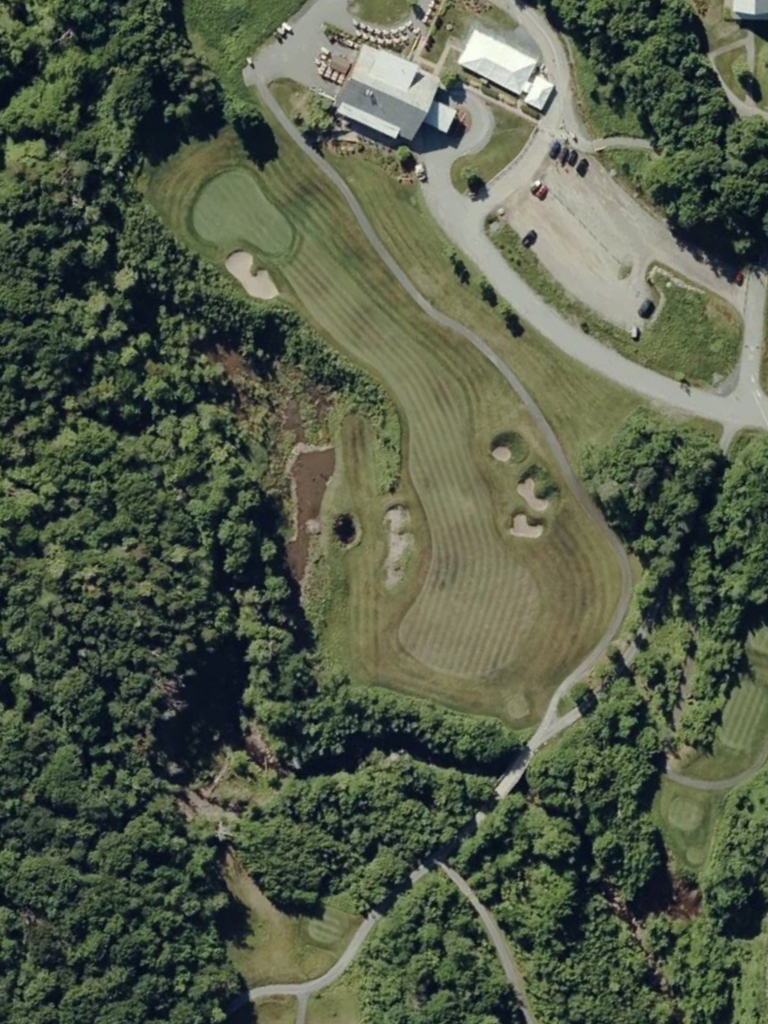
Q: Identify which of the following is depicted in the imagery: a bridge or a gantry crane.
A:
bridge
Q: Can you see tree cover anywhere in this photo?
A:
Yes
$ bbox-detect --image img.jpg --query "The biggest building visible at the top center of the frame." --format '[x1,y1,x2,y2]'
[336,45,457,141]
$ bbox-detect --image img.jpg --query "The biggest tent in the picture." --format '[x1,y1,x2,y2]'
[458,30,537,94]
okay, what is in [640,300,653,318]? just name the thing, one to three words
vehicle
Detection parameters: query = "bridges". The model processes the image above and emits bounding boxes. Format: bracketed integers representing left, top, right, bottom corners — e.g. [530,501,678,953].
[494,747,534,801]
